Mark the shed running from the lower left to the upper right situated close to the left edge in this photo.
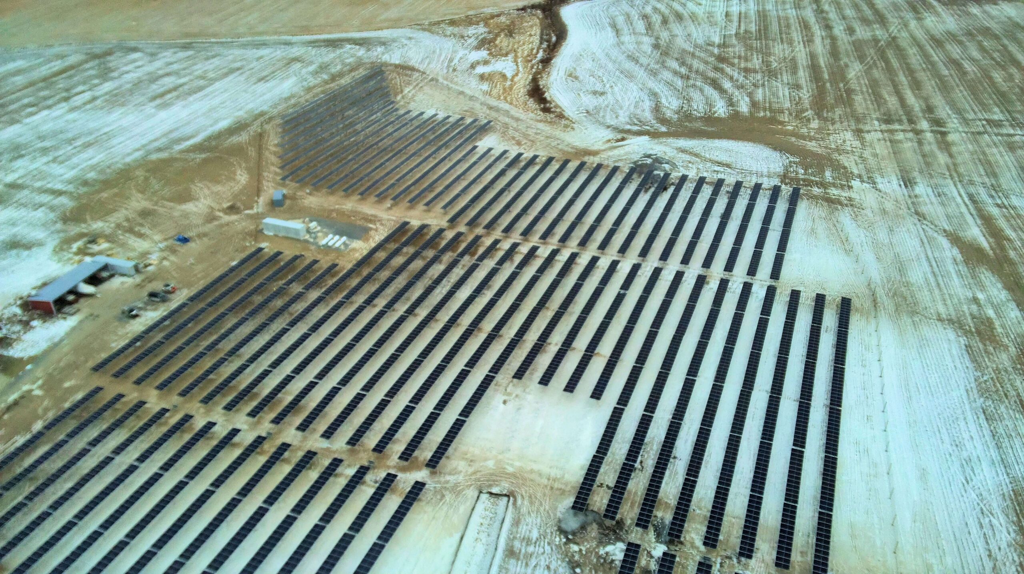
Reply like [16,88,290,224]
[27,262,112,314]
